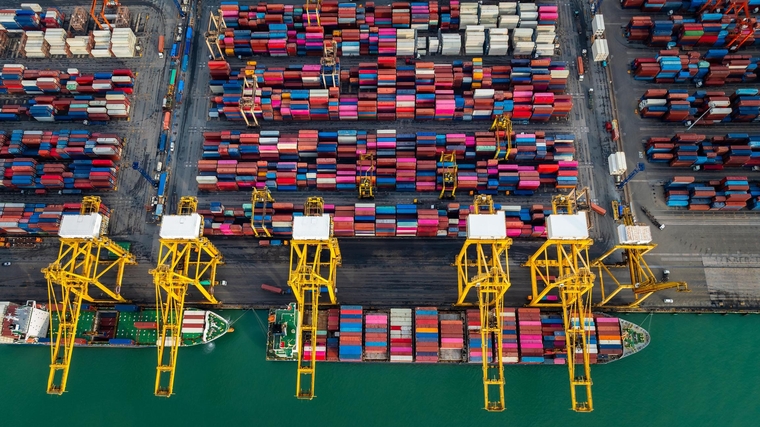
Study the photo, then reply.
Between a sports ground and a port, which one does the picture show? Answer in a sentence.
What you see here is a port.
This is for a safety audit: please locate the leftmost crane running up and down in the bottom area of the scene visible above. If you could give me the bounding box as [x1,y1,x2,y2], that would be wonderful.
[45,192,140,396]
